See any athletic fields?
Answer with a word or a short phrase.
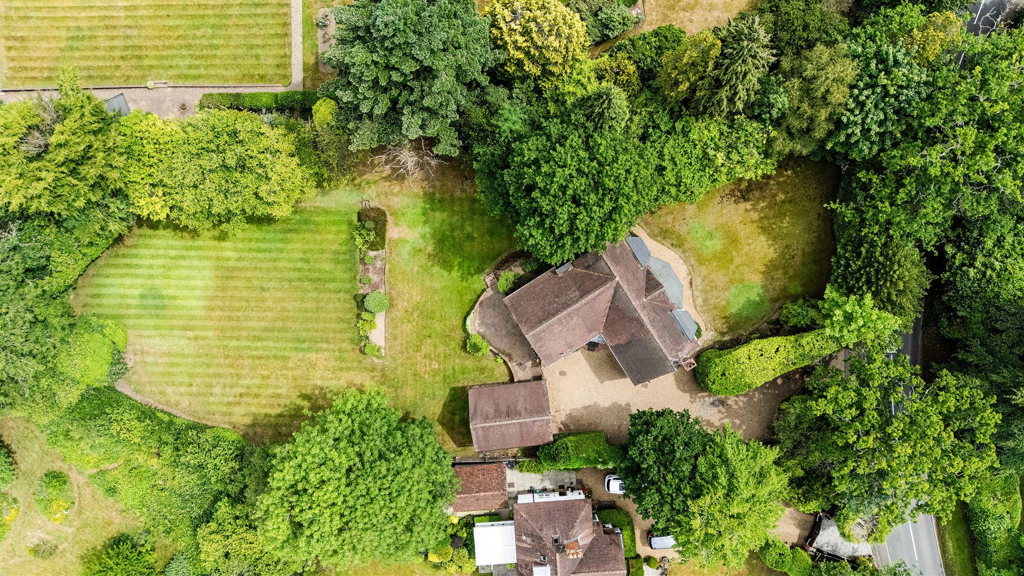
No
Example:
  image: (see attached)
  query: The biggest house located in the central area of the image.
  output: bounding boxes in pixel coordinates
[505,235,700,387]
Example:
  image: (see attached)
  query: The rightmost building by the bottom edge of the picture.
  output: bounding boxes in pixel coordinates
[513,484,631,576]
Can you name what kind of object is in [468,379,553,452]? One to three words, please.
building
